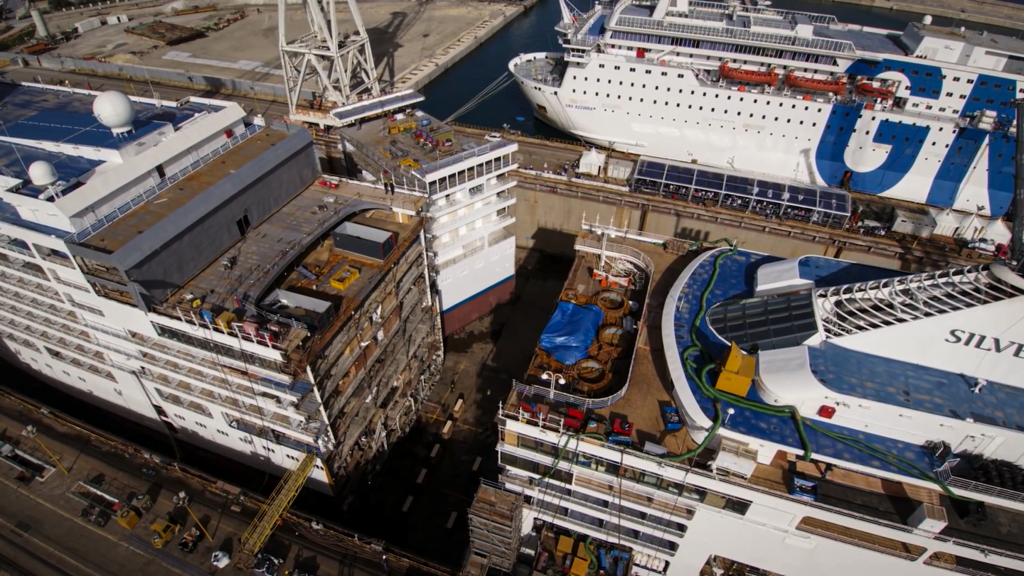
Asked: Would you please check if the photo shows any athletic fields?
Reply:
No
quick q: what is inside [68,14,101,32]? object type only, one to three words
shed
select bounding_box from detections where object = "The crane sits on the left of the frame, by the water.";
[279,0,425,134]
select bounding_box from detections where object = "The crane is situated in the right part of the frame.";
[997,92,1024,278]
